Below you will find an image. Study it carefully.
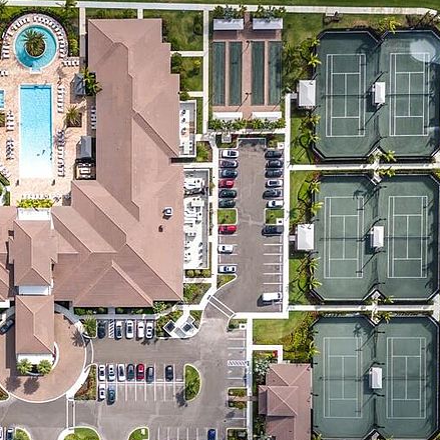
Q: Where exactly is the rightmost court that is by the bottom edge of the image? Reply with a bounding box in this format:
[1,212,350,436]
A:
[375,317,439,440]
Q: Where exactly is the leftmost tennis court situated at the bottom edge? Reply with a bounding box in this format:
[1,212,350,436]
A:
[311,317,375,440]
